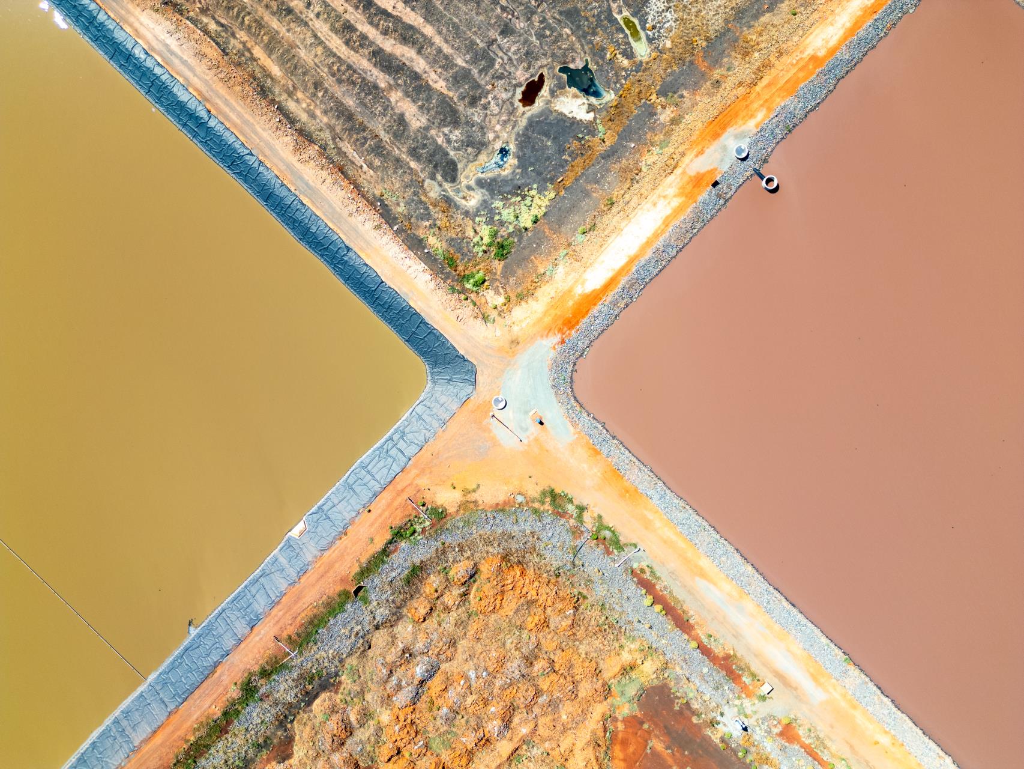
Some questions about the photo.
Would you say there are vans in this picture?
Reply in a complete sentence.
No, no van is visible in the view.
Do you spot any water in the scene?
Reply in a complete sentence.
Yes, the picture does contain water.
